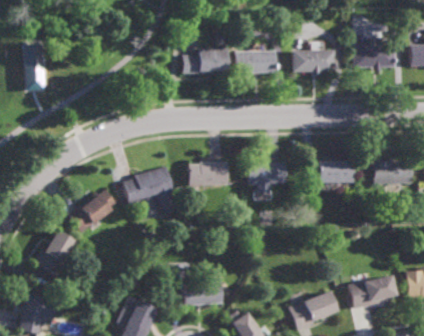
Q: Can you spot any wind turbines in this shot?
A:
No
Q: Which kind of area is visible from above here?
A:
residential area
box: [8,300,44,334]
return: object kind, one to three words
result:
house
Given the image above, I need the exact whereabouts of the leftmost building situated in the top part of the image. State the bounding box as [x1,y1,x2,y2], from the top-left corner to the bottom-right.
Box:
[23,44,47,91]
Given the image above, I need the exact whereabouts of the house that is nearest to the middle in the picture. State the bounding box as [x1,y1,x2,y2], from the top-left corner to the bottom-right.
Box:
[189,162,229,189]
